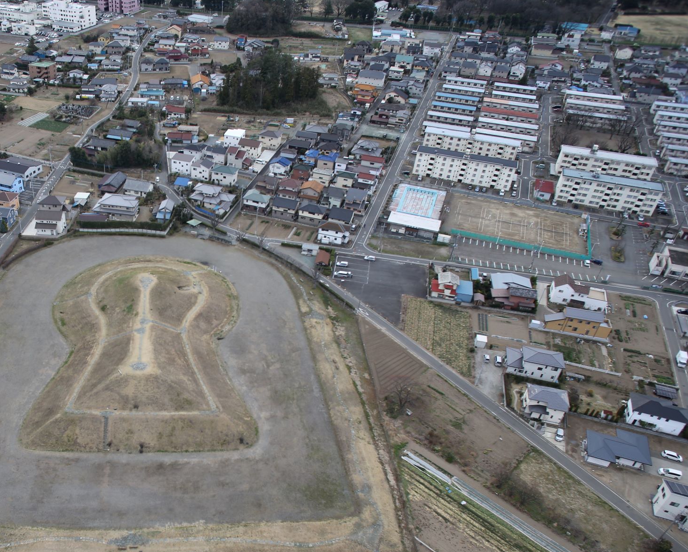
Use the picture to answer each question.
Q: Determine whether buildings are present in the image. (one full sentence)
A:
Yes, there's a building here.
